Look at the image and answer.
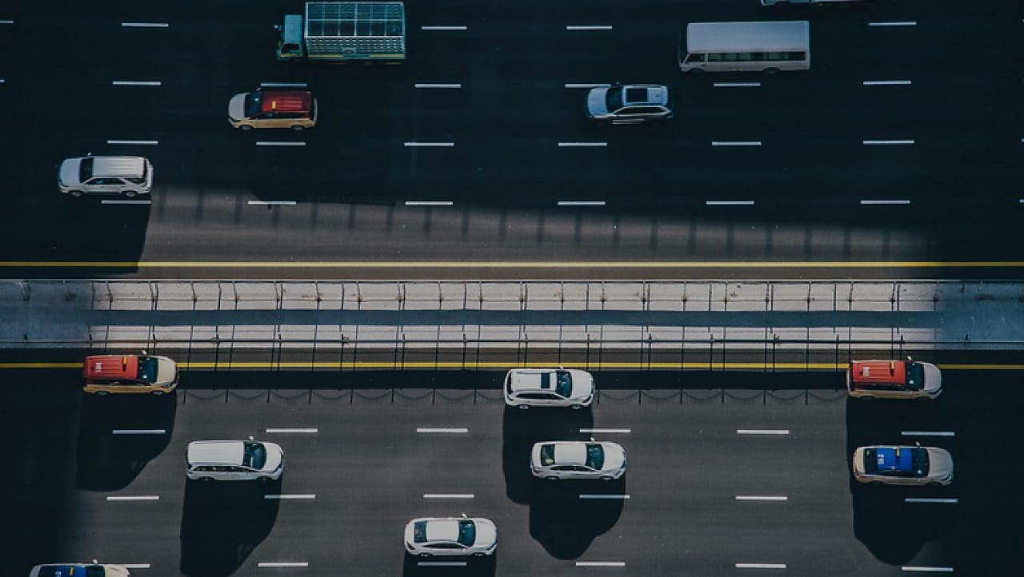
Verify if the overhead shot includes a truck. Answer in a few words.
Yes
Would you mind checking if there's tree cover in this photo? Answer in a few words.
No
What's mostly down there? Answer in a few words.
paved ground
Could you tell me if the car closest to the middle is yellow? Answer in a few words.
No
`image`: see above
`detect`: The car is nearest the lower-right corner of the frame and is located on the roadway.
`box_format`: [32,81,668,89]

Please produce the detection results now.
[852,441,952,487]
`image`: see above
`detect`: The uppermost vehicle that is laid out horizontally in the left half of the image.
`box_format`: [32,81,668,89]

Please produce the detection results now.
[274,3,407,65]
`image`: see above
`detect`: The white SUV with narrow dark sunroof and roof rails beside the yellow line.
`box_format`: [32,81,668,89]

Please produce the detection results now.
[504,364,595,410]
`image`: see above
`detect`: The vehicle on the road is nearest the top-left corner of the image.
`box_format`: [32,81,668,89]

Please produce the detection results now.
[59,152,153,198]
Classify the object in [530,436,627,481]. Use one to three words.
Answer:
car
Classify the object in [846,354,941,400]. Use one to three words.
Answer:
car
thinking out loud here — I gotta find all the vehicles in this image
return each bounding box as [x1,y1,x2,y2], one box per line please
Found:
[403,513,498,559]
[852,441,952,487]
[59,152,153,198]
[32,559,130,577]
[228,86,319,130]
[846,354,941,400]
[504,364,595,410]
[187,437,285,483]
[679,21,811,76]
[274,3,407,65]
[586,80,673,124]
[84,350,179,396]
[530,436,627,481]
